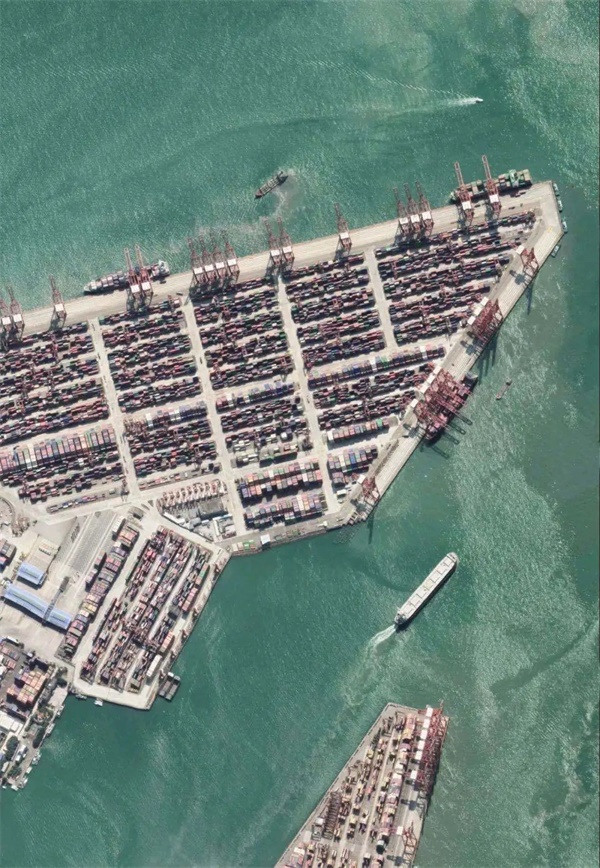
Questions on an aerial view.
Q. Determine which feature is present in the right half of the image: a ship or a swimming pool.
ship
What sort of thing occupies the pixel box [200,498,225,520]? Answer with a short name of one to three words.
building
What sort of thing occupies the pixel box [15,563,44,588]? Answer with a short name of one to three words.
building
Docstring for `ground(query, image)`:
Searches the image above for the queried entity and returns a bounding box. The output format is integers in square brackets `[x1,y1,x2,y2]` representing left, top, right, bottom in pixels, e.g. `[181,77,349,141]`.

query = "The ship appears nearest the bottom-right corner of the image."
[395,553,456,630]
